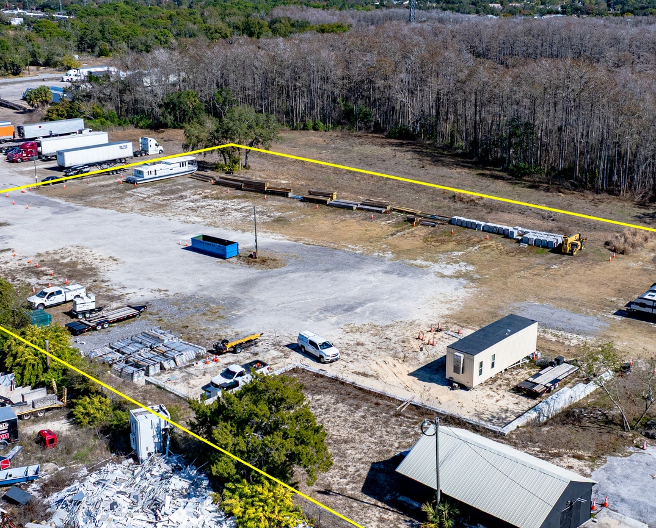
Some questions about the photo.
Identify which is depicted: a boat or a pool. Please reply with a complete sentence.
Looking from above, you can make out a boat.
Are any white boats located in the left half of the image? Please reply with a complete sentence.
Yes, there is a white boat in the left half of the image.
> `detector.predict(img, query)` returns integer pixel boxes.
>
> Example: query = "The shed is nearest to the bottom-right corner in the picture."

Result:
[400,424,593,528]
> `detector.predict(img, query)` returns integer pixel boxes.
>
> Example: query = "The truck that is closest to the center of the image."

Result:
[298,331,340,364]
